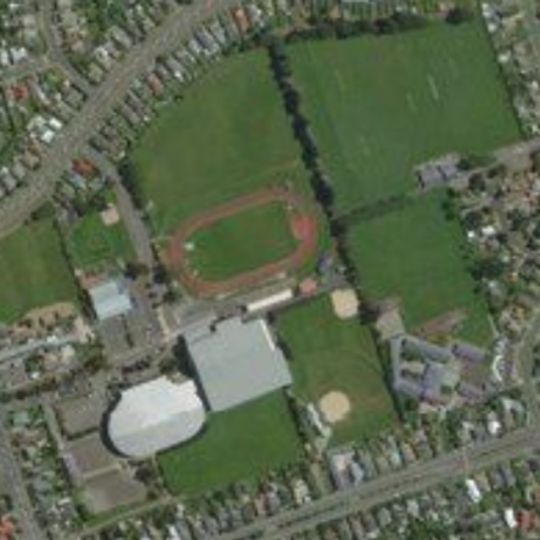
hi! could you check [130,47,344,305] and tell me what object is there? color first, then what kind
green sports field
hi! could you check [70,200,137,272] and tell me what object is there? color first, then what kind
green sports field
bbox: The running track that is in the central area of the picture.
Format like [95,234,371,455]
[168,186,317,299]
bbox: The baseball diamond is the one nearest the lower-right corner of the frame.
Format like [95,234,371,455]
[291,352,400,446]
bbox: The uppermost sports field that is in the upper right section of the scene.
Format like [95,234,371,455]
[283,14,521,217]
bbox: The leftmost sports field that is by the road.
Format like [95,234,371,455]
[0,204,78,325]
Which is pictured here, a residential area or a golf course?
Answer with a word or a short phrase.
residential area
